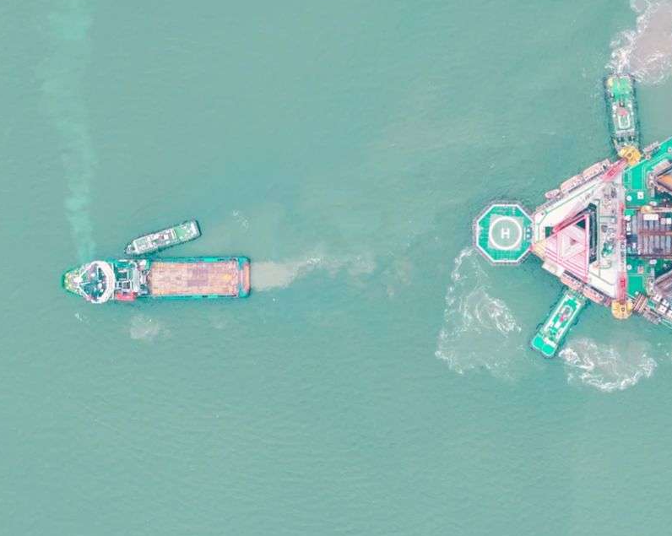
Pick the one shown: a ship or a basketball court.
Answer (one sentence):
The one in the frame is a ship.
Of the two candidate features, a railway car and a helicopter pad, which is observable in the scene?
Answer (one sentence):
Visible in the photo is a helicopter pad.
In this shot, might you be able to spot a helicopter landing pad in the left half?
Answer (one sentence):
No, I can find no helicopter landing pad in the left half.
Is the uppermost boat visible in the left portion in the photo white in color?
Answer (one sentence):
Yes, the uppermost boat visible in the left portion is white.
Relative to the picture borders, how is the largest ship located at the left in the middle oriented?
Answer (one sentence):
I'd say the largest ship located at the left in the middle is aligned from left to right in the picture.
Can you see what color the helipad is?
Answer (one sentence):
In this view, the helipad is white.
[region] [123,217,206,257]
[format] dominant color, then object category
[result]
white boat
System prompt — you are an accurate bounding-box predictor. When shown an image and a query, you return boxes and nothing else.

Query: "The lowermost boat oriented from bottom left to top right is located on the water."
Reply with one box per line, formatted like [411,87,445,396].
[531,285,590,358]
